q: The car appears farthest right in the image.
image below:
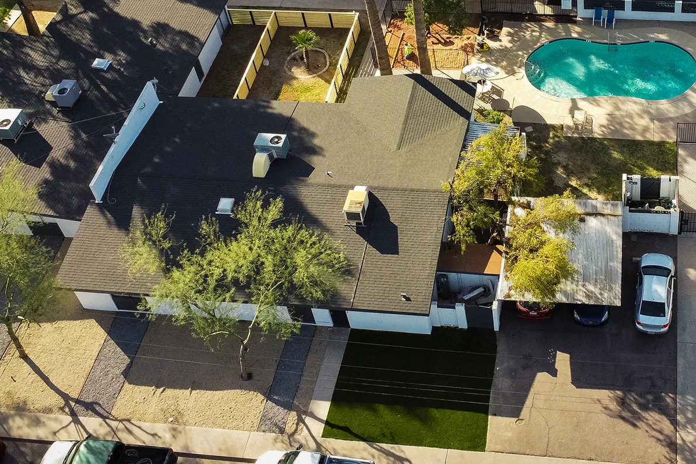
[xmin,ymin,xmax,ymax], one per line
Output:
[632,247,679,334]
